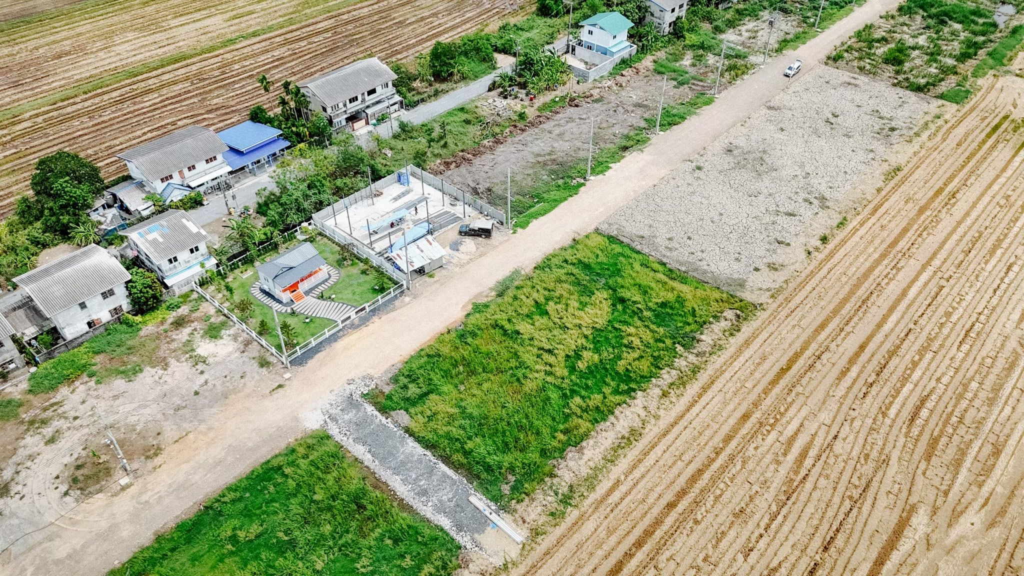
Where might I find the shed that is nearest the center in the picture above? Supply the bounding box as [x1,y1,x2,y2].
[389,234,449,282]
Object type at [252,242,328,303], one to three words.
house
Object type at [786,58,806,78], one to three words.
car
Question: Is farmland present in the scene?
Yes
